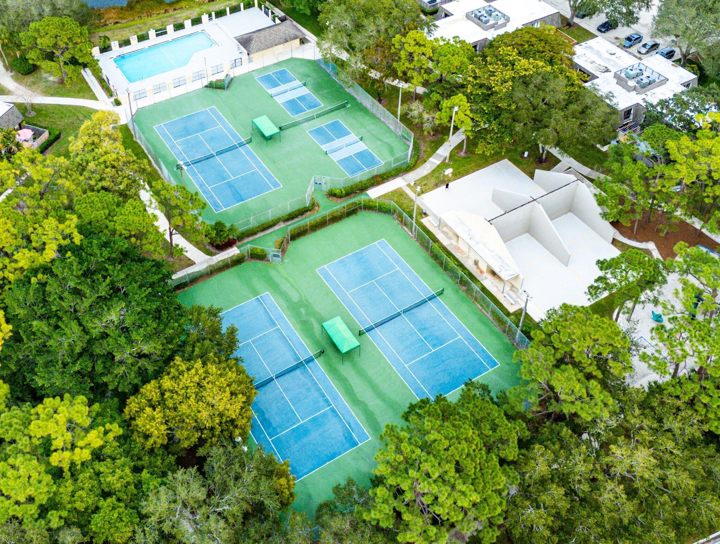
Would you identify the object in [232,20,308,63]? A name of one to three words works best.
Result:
building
